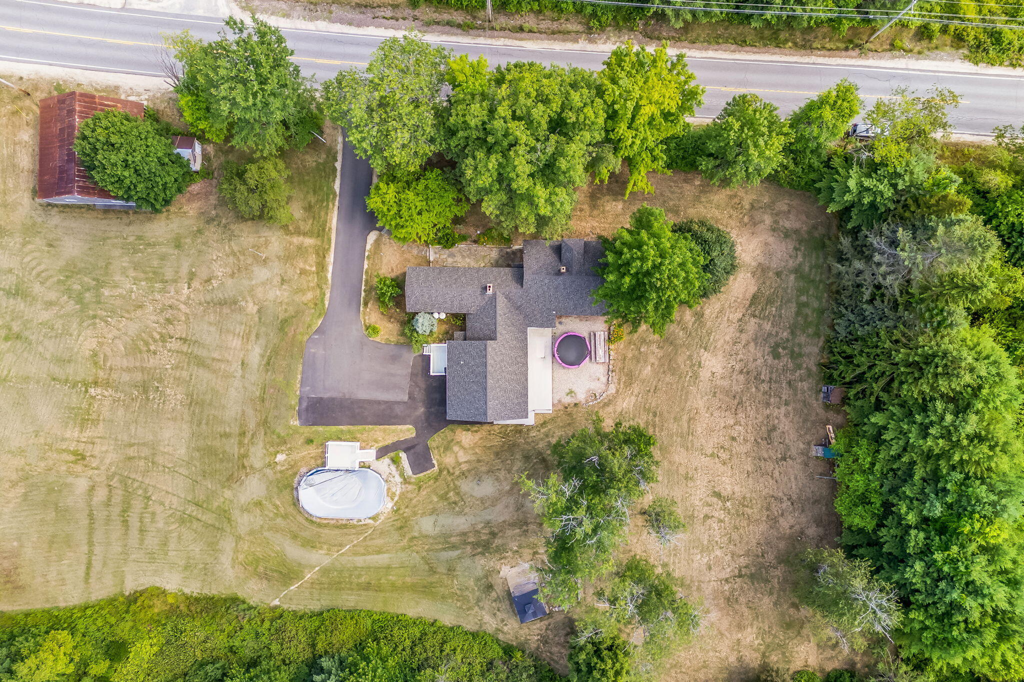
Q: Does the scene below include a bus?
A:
No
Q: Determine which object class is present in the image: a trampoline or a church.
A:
trampoline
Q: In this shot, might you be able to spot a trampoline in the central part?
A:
Yes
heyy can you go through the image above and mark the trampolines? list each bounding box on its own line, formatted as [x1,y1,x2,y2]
[554,332,591,369]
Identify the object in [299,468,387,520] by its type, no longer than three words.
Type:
swimming pool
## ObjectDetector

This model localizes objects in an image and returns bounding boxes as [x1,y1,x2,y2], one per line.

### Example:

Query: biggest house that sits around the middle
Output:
[405,239,611,422]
